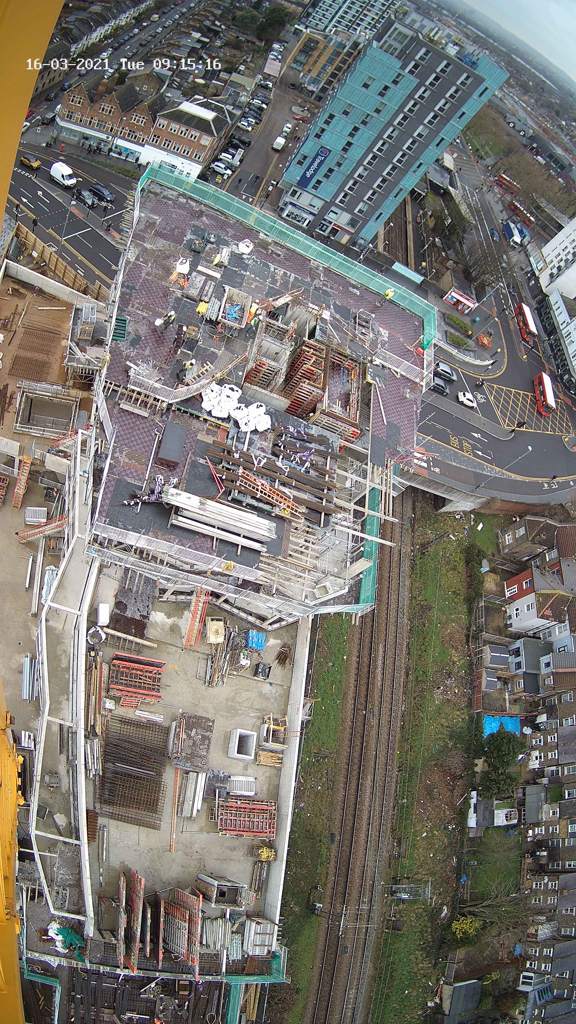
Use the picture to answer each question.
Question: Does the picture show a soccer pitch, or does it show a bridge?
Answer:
bridge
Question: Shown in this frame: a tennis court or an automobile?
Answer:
automobile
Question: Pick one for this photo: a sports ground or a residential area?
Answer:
residential area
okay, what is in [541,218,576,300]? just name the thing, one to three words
building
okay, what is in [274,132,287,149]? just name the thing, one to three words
vehicle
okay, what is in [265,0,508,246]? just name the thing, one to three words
building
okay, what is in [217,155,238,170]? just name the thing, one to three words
car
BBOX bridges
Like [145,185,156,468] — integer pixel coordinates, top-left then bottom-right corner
[381,466,458,518]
